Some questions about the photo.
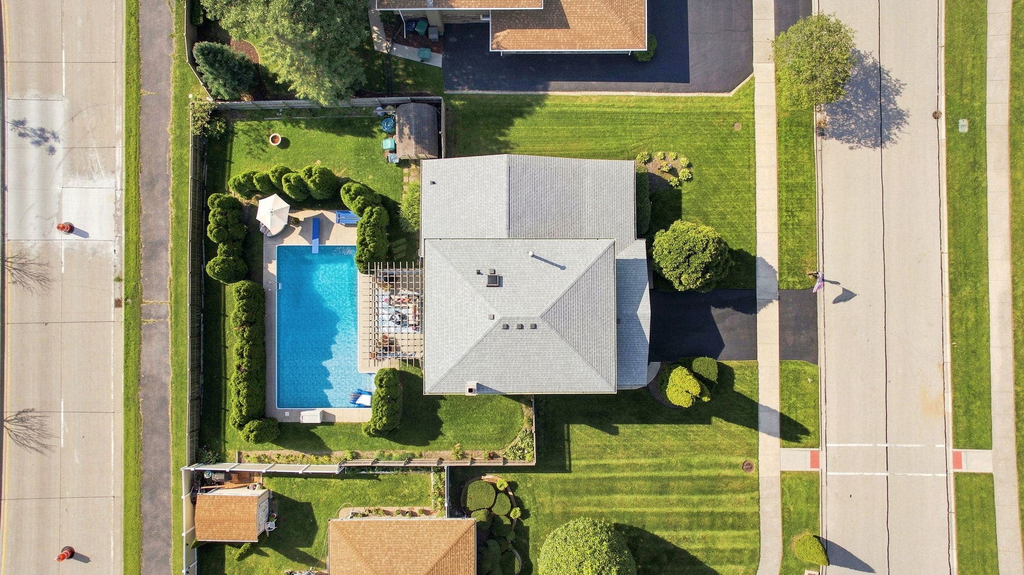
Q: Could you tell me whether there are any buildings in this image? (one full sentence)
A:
Yes, you can see a building in this photo.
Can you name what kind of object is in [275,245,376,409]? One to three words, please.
swimming pool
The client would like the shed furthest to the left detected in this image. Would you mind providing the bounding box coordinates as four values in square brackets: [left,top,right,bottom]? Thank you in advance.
[192,488,269,543]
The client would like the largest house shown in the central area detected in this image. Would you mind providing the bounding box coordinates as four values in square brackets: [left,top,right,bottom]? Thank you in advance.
[420,154,653,397]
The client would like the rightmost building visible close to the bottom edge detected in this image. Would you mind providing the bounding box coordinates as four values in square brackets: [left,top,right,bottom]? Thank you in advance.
[327,515,477,575]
